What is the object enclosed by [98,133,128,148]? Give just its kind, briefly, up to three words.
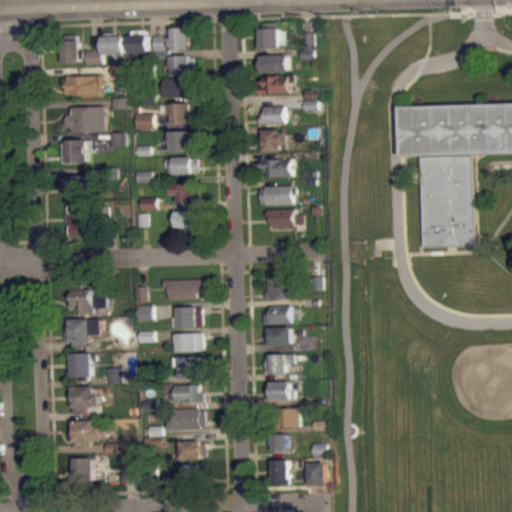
building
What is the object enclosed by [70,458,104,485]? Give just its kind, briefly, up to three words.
house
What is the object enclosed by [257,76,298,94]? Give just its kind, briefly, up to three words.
house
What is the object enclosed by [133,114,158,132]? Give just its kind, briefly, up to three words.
building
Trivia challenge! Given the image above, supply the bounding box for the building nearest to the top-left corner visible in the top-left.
[62,36,85,63]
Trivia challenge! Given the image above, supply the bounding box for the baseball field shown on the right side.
[452,343,512,420]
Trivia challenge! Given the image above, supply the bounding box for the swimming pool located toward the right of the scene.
[308,127,322,140]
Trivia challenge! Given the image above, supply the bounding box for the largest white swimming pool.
[112,320,134,350]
